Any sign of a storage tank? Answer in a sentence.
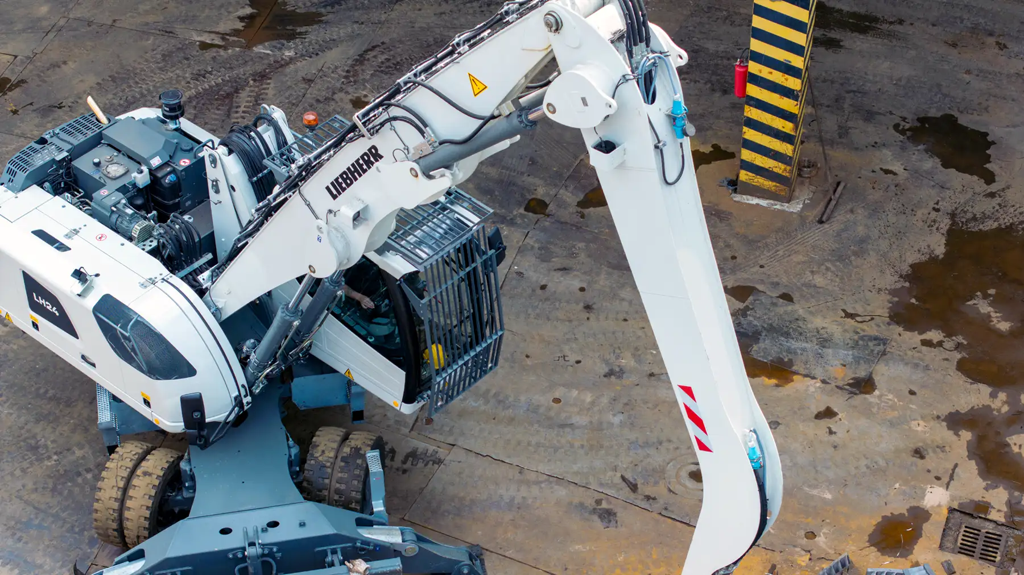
Yes, there is a storage tank in the image.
